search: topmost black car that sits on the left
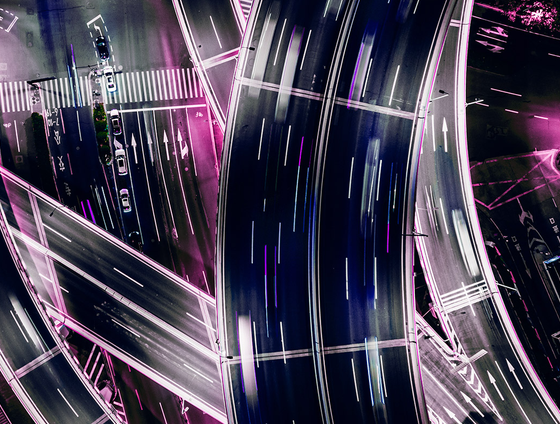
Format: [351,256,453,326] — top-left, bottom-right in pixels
[95,35,108,62]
